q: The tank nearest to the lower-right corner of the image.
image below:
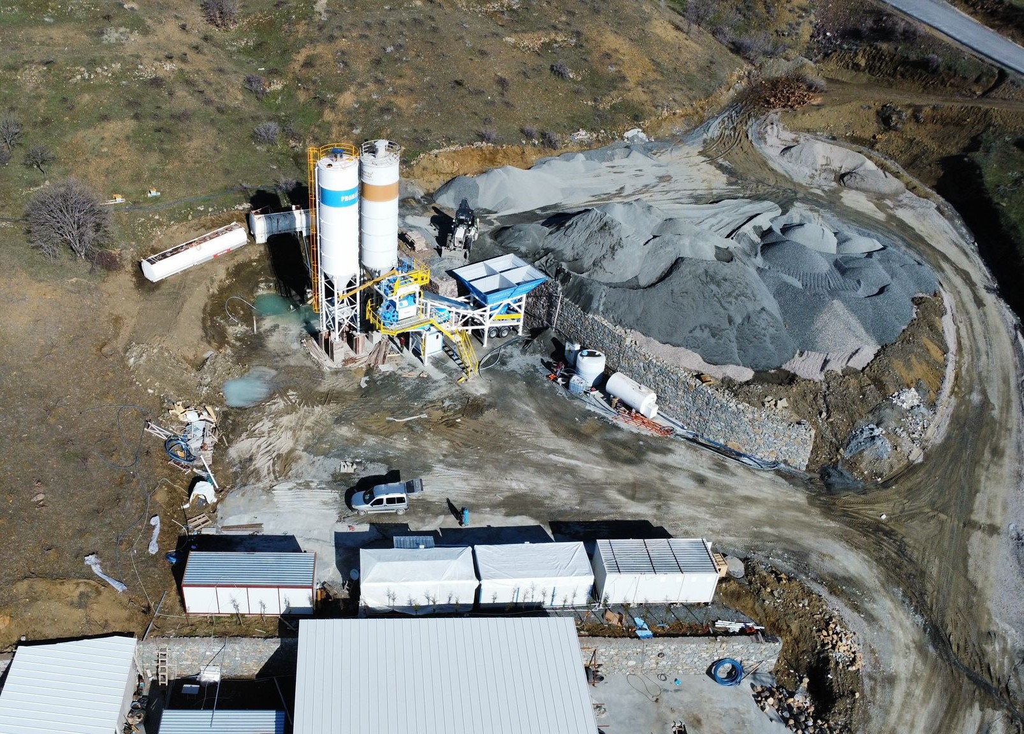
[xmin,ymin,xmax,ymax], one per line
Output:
[605,372,658,417]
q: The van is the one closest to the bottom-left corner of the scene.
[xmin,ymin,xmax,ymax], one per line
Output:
[350,477,423,515]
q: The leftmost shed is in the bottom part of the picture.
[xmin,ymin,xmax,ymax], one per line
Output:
[0,631,143,734]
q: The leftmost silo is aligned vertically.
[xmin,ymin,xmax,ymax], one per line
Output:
[308,142,366,358]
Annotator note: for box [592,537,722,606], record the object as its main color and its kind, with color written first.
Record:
white shipping container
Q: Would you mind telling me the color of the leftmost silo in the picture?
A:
white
